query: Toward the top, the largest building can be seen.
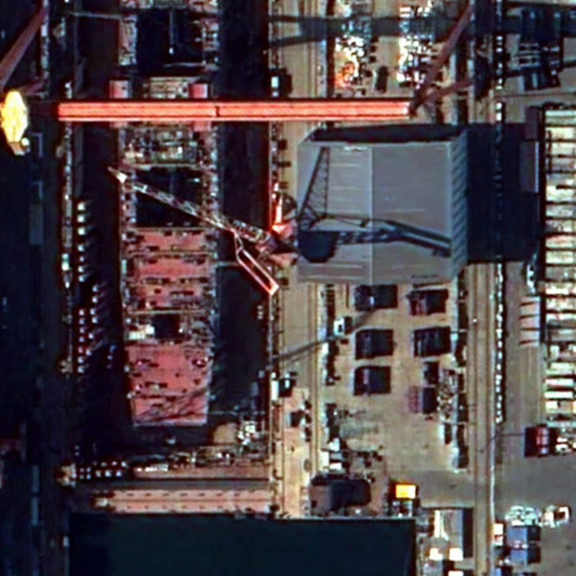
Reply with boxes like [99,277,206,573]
[297,129,467,284]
